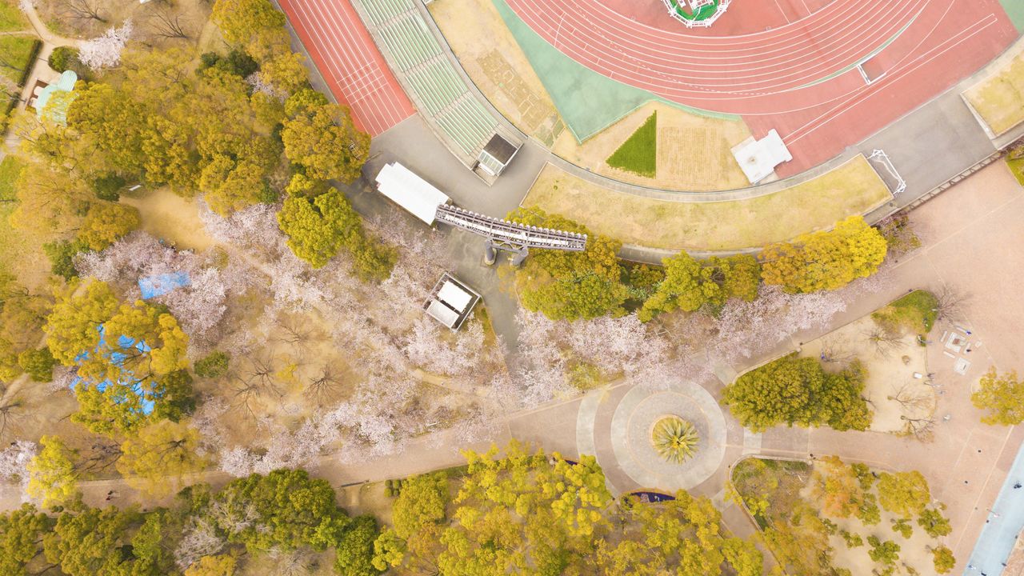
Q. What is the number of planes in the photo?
0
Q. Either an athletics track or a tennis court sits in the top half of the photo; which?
athletics track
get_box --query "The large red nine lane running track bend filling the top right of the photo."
[492,0,1024,182]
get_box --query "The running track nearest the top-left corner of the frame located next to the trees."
[279,0,417,142]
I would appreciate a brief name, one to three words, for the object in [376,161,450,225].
house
